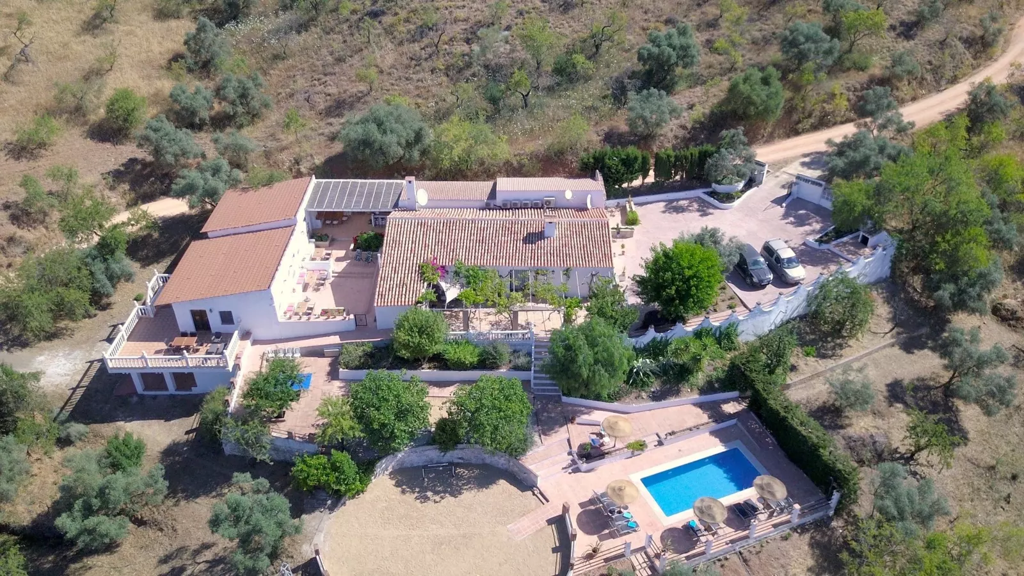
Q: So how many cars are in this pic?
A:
two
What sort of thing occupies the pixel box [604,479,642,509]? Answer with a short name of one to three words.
umbrella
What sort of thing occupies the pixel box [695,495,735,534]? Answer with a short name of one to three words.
umbrella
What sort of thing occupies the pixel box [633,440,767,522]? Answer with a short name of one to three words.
swimming pool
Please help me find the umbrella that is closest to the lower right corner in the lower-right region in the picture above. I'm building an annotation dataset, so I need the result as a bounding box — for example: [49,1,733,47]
[756,474,795,512]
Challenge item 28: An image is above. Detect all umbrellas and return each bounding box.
[604,479,642,509]
[756,474,795,512]
[599,416,634,448]
[695,495,735,534]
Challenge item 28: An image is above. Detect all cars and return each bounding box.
[765,239,805,280]
[734,243,773,283]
